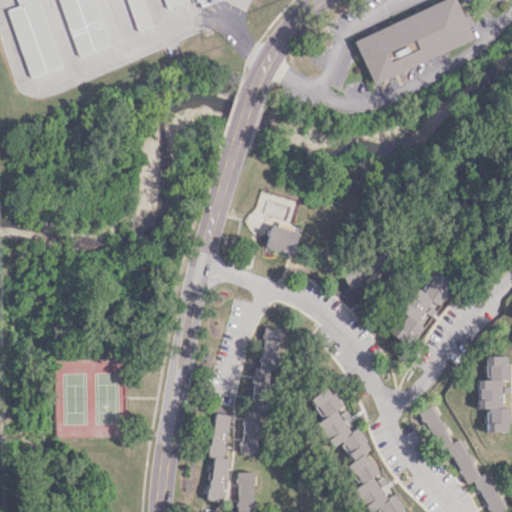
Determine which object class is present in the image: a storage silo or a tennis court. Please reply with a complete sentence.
This aerial view contains a tennis court.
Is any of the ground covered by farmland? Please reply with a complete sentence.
No, there's no farmland in this view.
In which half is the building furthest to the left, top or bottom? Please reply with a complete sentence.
The top half of the photo is where the building furthest to the left is.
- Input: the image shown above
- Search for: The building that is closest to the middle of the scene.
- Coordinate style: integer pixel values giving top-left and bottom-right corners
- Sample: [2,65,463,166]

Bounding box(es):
[268,224,302,256]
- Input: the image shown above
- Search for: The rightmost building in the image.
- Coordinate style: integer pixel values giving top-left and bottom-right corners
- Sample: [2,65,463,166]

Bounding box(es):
[477,356,512,434]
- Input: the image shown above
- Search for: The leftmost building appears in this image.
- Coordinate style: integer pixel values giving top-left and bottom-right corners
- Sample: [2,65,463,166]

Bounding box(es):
[8,0,64,77]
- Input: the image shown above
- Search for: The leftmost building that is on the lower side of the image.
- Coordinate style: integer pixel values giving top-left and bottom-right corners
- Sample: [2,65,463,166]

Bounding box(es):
[204,414,232,501]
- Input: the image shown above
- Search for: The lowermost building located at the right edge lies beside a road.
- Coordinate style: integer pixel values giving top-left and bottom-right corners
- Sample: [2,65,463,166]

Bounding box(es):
[422,408,509,512]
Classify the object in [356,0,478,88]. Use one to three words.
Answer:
building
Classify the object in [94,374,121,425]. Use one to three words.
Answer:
tennis court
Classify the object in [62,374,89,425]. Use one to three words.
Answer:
tennis court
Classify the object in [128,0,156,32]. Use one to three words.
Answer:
building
